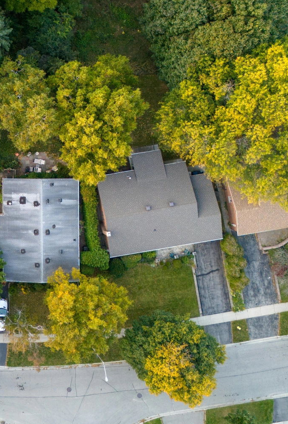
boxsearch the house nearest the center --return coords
[95,149,222,258]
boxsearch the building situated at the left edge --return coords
[0,178,79,282]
